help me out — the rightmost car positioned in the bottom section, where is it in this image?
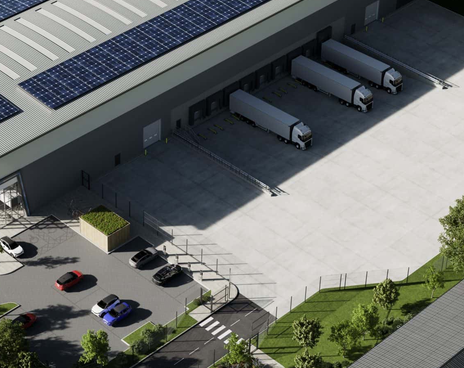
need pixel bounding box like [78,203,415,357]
[153,265,183,285]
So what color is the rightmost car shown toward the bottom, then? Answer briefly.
black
